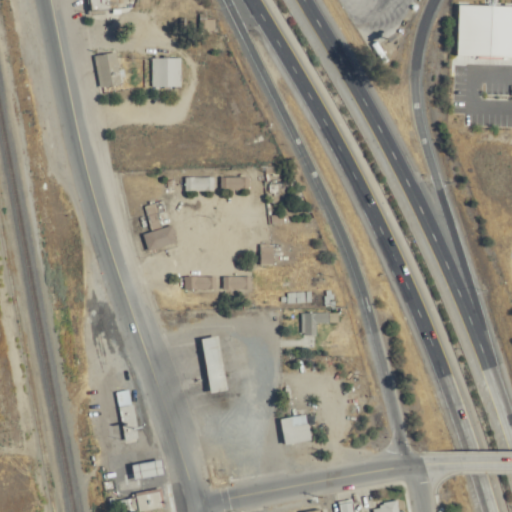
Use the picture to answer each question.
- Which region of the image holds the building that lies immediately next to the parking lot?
top right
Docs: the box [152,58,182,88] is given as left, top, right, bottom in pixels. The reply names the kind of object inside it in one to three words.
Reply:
barn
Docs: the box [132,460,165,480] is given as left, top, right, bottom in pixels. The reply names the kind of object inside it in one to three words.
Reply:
building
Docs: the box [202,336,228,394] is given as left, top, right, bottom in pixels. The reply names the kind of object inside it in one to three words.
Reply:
building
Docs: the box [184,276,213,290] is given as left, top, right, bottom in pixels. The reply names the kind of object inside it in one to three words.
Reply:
house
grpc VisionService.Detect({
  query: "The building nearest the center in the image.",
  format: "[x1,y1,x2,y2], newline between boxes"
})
[260,244,274,266]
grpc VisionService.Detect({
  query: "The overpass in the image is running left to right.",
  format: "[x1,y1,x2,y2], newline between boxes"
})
[424,450,512,474]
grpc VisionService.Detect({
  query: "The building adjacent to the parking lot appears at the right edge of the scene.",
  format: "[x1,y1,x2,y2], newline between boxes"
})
[458,4,512,56]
